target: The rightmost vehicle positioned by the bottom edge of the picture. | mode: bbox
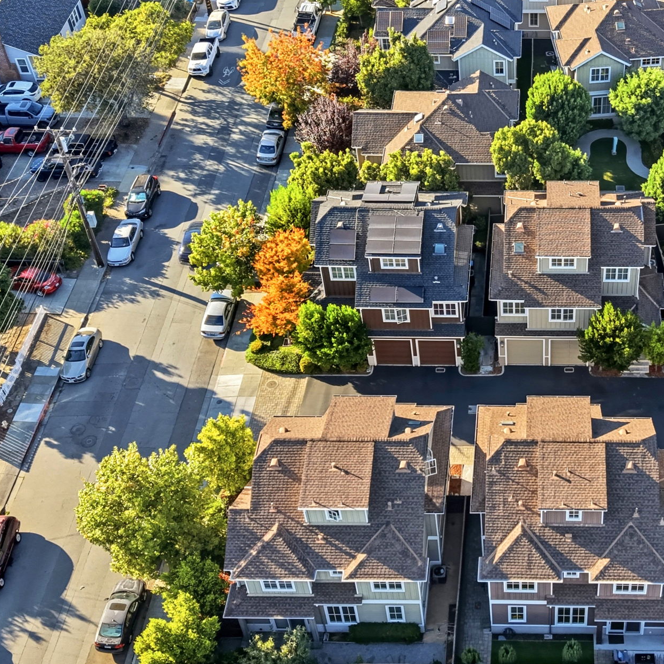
[92,584,149,655]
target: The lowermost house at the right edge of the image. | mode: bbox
[469,400,664,653]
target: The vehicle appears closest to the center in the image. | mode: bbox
[199,295,238,343]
